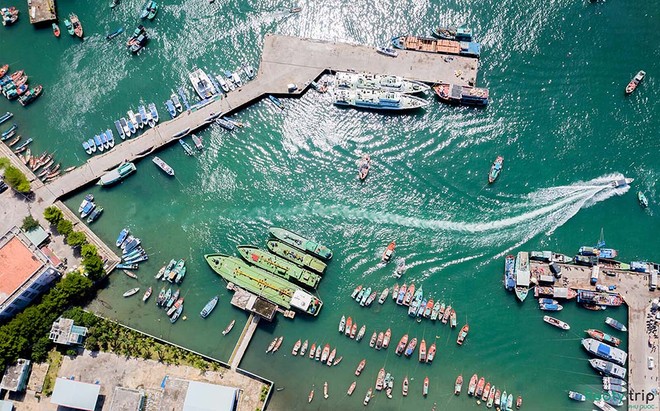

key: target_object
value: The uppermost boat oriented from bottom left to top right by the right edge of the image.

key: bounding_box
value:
[626,70,648,94]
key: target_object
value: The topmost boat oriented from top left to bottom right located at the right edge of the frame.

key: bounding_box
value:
[636,191,649,207]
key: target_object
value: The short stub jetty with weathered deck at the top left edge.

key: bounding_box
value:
[30,0,57,25]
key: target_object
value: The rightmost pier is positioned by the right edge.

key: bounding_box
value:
[529,260,660,411]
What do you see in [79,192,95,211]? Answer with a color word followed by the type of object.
white boat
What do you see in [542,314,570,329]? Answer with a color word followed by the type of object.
white boat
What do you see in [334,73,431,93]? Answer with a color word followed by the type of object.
white ship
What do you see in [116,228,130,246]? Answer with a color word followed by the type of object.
blue boat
